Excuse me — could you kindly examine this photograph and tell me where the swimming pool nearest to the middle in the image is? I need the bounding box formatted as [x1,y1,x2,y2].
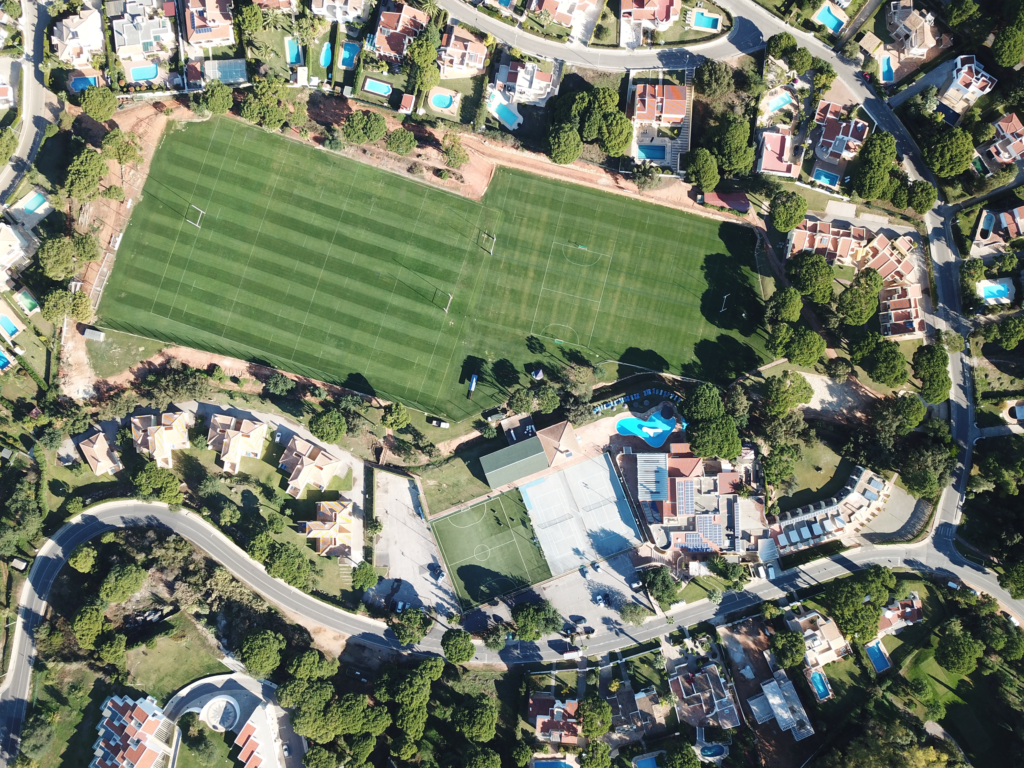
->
[615,408,677,449]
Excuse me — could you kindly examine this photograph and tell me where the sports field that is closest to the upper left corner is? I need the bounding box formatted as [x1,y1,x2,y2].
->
[95,116,504,422]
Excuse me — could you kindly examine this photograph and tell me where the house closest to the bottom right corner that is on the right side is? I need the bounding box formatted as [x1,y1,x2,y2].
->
[875,591,924,635]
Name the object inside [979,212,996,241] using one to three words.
swimming pool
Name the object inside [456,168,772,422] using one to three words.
sports field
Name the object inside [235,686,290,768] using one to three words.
building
